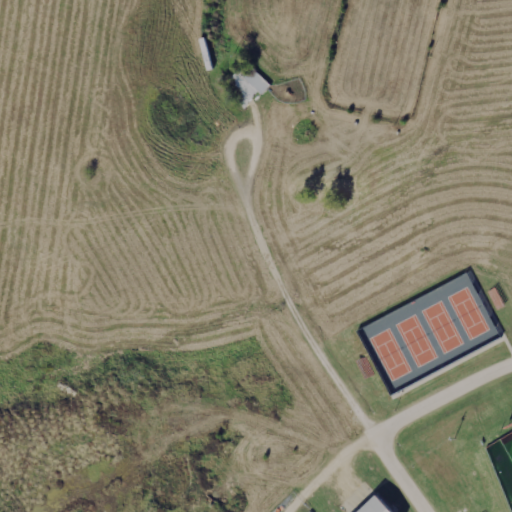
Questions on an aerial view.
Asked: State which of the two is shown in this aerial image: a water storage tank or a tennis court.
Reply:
tennis court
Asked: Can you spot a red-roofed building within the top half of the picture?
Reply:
No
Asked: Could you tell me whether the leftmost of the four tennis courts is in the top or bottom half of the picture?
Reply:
bottom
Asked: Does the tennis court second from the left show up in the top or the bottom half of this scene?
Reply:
bottom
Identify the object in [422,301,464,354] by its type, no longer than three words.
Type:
tennis court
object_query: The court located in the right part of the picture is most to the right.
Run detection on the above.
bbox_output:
[448,288,490,340]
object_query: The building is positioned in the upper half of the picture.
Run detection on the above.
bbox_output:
[233,70,272,107]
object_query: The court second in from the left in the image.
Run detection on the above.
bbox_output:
[396,314,437,367]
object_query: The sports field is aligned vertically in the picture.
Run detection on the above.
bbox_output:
[488,433,512,512]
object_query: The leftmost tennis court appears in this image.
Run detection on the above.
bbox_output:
[370,328,411,380]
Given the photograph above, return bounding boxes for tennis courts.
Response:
[370,328,411,380]
[422,301,464,354]
[448,288,490,340]
[396,314,437,367]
